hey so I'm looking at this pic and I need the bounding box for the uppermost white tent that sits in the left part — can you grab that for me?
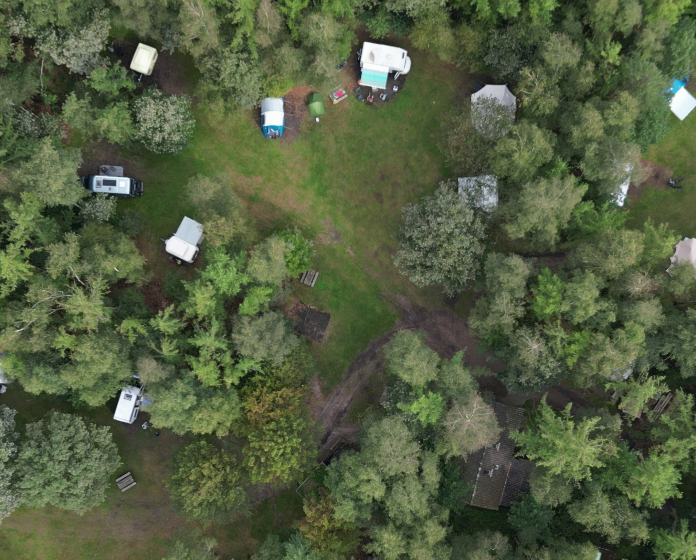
[258,97,292,139]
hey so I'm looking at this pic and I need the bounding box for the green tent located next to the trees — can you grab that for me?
[307,94,326,117]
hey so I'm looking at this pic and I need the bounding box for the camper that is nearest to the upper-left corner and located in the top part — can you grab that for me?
[131,42,159,86]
